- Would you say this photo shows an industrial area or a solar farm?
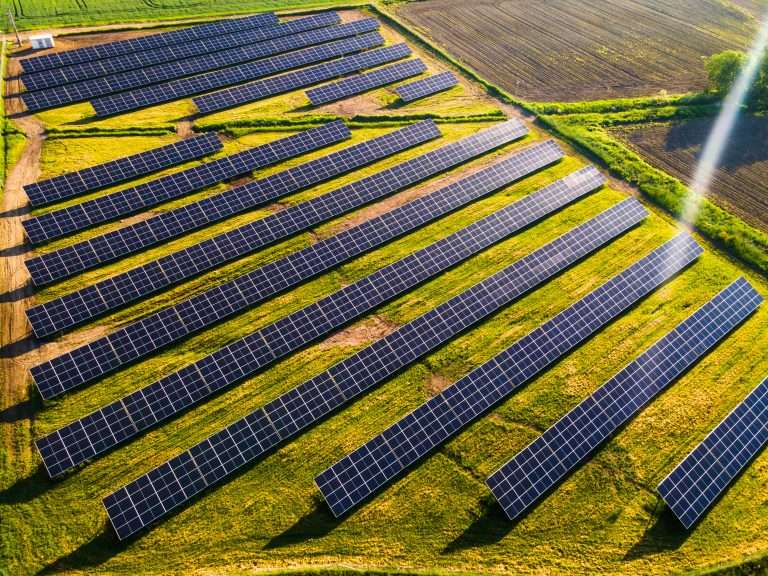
solar farm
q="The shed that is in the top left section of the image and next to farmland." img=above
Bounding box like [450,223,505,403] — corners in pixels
[28,33,56,49]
